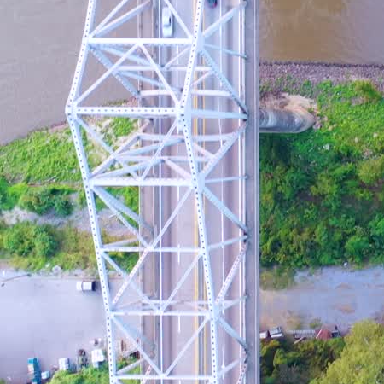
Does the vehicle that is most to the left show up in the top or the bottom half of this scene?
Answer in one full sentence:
It is in the bottom half that the vehicle that is most to the left appears.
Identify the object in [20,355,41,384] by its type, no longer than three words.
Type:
vehicle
